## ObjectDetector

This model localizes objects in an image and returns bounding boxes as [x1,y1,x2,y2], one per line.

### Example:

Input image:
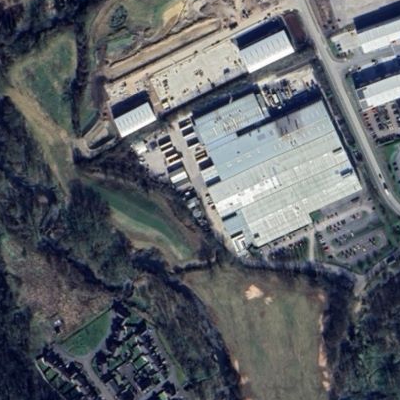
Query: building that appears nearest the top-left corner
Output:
[114,102,157,136]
